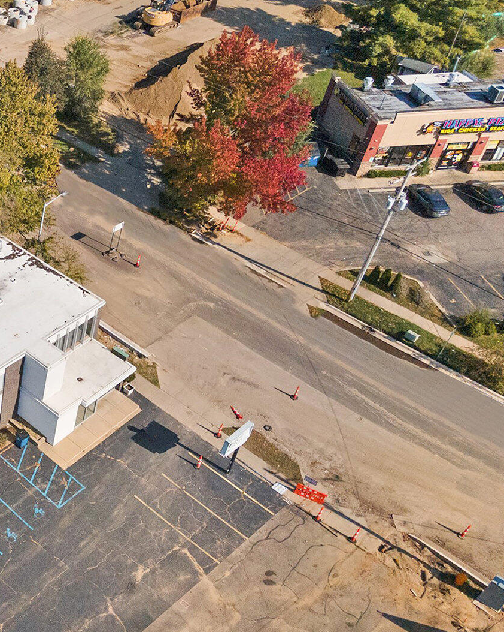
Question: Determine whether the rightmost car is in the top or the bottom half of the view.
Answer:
top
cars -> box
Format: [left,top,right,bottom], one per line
[460,182,504,211]
[413,184,453,213]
